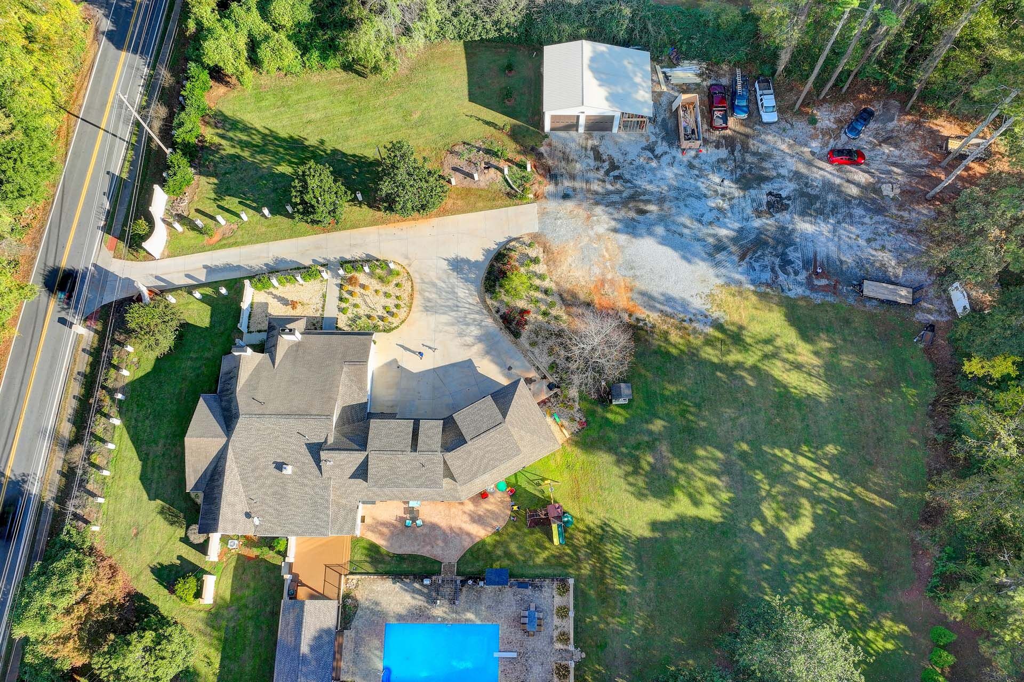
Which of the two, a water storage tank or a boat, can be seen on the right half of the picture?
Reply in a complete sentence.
There is a boat on the right half of the picture.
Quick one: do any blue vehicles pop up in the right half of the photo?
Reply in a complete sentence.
Yes, there is a blue vehicle in the right half of the photo.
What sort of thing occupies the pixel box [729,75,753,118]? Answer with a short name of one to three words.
truck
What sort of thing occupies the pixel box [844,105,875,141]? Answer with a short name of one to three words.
car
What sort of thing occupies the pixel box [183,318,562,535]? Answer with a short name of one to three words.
house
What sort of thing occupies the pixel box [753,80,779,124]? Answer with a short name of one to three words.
truck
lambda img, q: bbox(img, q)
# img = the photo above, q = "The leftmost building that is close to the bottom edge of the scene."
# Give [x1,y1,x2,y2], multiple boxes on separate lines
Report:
[273,601,343,682]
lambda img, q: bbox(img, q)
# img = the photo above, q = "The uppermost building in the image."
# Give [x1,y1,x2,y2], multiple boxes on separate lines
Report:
[542,37,652,132]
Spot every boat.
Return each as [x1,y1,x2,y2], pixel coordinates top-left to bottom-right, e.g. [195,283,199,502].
[945,281,973,316]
